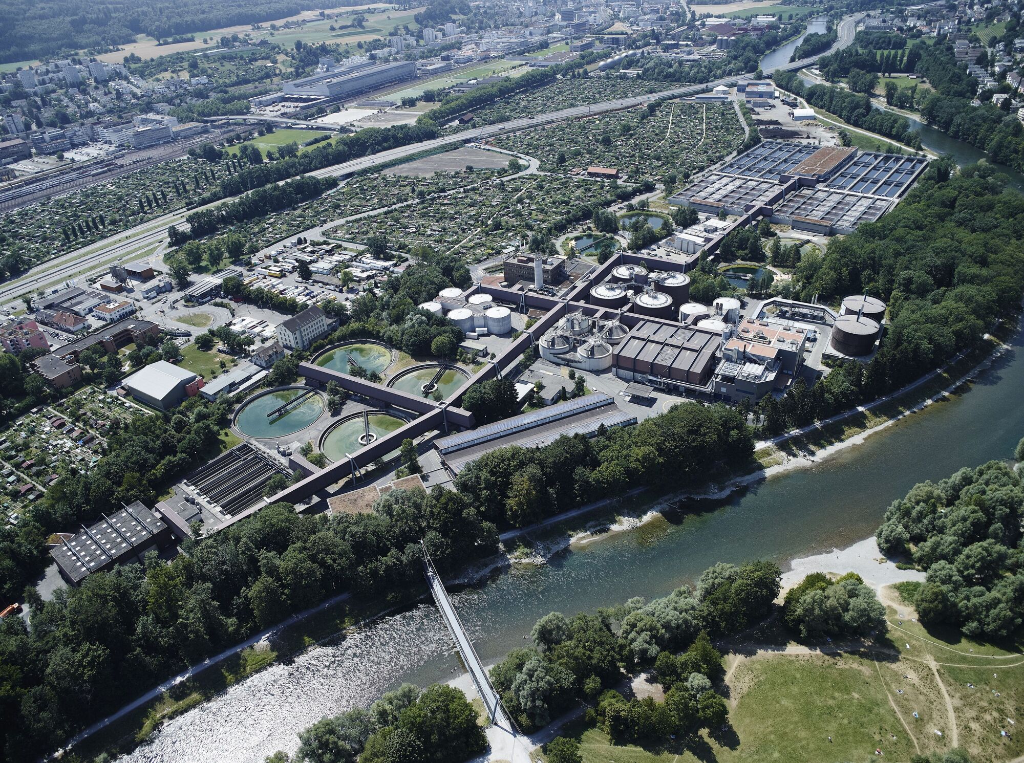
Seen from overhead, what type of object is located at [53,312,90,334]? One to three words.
house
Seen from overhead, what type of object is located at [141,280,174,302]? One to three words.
building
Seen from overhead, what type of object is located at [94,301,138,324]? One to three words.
house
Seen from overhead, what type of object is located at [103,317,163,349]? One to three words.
building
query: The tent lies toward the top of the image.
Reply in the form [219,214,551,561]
[785,106,819,119]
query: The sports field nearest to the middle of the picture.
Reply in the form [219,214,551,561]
[381,148,527,176]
